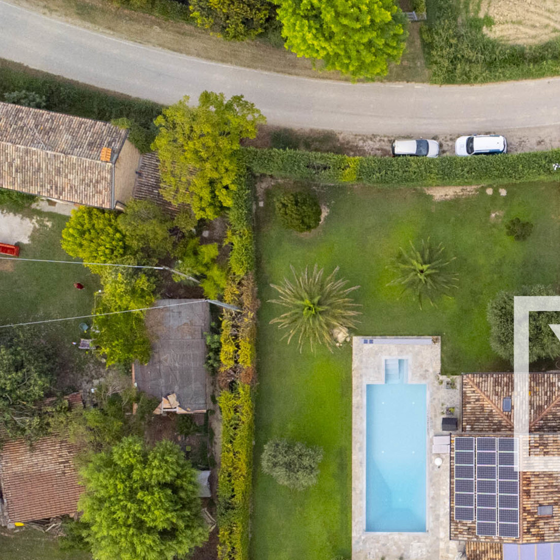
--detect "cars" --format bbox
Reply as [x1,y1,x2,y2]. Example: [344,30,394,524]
[456,133,508,160]
[393,138,440,161]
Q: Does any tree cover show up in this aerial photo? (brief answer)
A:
Yes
